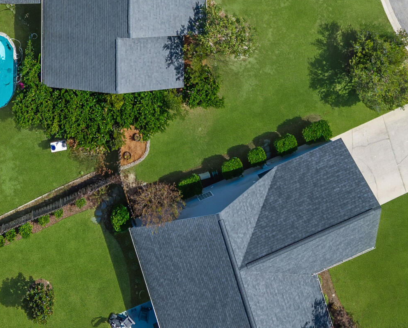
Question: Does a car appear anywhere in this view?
No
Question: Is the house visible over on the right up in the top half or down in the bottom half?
bottom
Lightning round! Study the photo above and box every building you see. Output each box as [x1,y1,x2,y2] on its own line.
[128,140,381,328]
[0,0,209,95]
